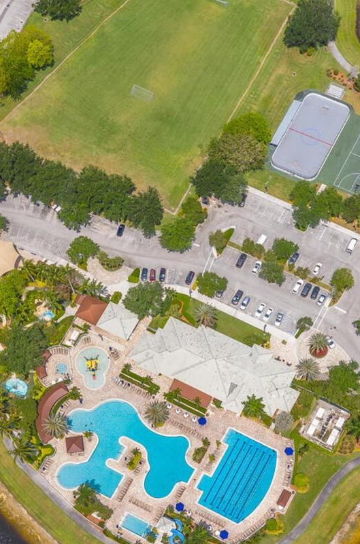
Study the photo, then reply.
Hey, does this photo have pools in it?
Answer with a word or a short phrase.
Yes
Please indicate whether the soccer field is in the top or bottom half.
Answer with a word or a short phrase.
top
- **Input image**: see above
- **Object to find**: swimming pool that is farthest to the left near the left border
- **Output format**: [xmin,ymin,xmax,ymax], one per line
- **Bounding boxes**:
[4,378,29,397]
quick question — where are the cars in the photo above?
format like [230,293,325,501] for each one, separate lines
[215,287,225,301]
[310,285,320,300]
[255,302,264,317]
[149,268,156,282]
[184,270,195,285]
[239,193,247,207]
[292,279,303,294]
[274,312,284,326]
[141,268,148,282]
[252,260,262,275]
[302,283,311,298]
[324,334,337,349]
[232,289,242,304]
[316,293,326,308]
[236,253,246,268]
[312,262,322,277]
[240,296,251,311]
[116,223,124,238]
[159,268,166,282]
[289,252,299,265]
